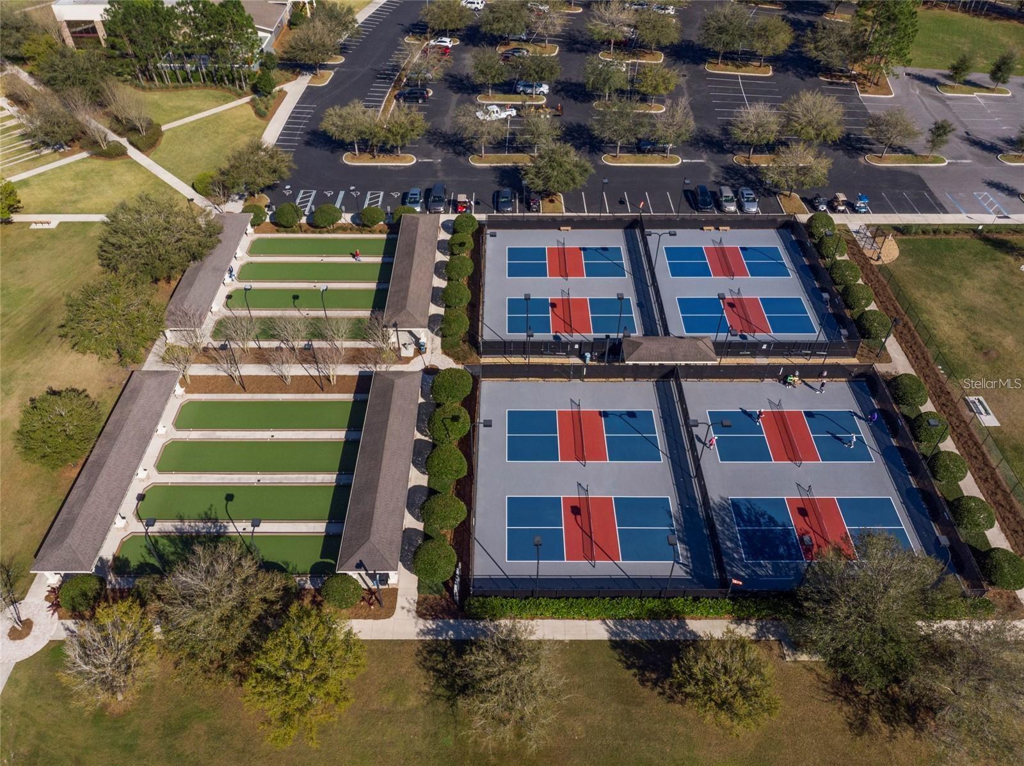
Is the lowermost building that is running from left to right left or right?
right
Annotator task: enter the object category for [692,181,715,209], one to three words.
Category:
car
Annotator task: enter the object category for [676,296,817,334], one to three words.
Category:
sports court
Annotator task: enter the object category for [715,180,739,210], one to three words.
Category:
vehicle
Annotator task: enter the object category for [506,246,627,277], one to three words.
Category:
sports court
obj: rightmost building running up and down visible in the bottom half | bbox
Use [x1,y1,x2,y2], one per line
[335,370,423,584]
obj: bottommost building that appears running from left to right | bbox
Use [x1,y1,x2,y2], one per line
[621,336,719,364]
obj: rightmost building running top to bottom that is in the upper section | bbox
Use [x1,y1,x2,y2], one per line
[381,213,441,349]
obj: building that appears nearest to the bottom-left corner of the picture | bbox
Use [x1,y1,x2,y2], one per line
[28,369,186,585]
